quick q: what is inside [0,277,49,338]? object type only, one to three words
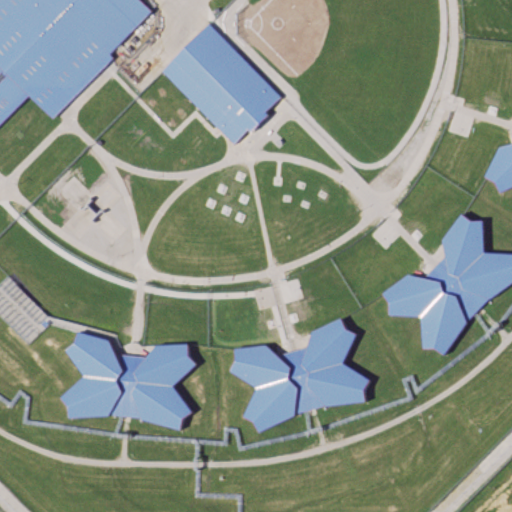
building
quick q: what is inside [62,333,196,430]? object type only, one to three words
building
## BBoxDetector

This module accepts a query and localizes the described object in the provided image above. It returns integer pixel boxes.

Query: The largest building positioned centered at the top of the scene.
[164,26,282,144]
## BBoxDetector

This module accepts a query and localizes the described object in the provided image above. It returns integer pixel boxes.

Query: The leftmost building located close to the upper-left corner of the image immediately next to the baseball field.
[0,0,153,126]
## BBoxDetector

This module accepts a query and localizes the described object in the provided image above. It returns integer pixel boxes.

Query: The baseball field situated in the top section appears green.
[238,0,441,162]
